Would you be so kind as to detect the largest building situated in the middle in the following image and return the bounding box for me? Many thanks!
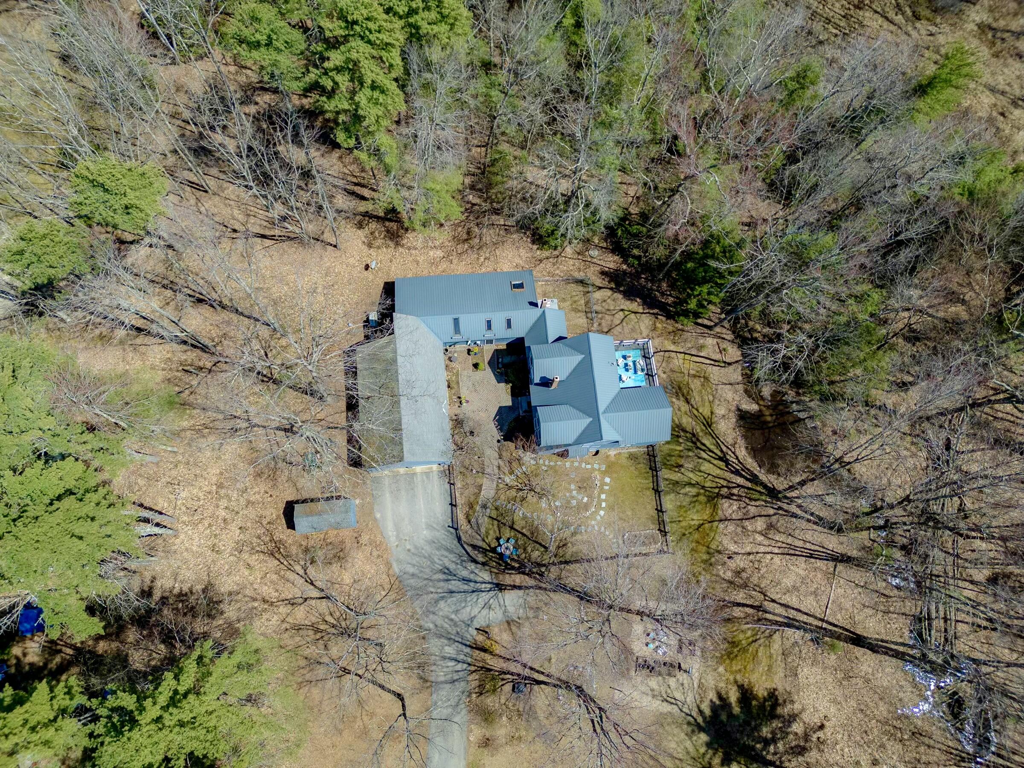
[357,270,672,471]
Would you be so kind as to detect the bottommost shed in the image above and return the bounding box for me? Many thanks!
[293,498,359,534]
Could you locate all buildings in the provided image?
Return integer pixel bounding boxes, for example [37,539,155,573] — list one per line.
[357,270,672,471]
[293,498,359,534]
